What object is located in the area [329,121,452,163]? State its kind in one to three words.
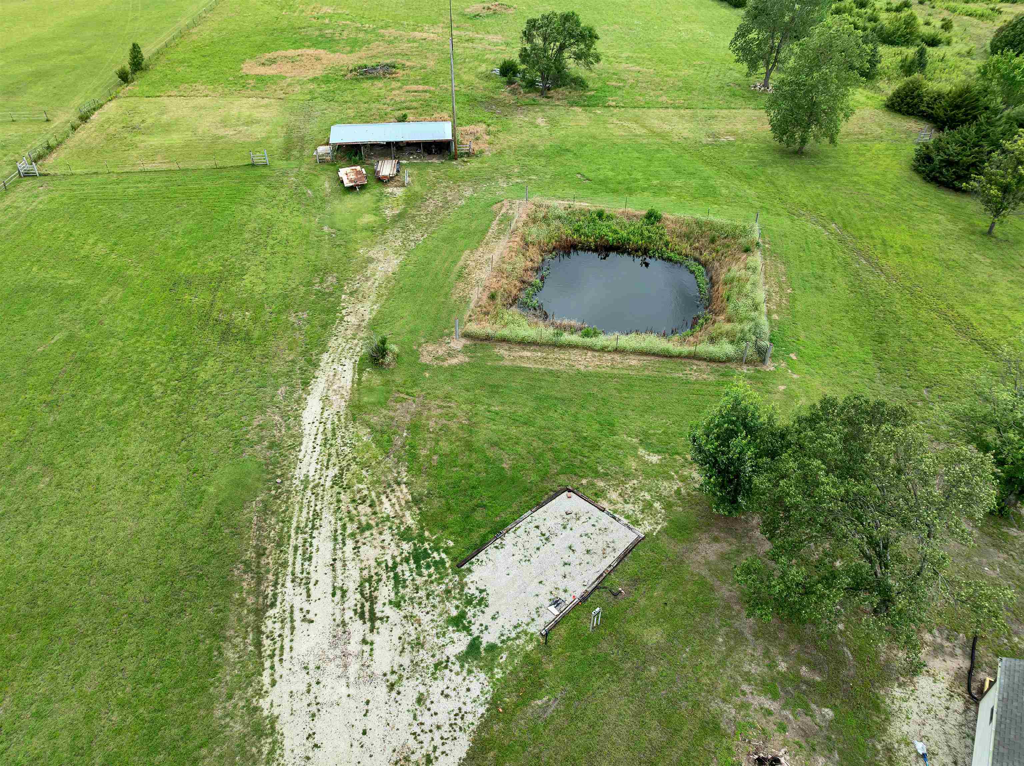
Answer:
shed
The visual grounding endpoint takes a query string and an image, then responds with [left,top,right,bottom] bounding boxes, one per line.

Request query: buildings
[329,121,452,163]
[972,656,1024,766]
